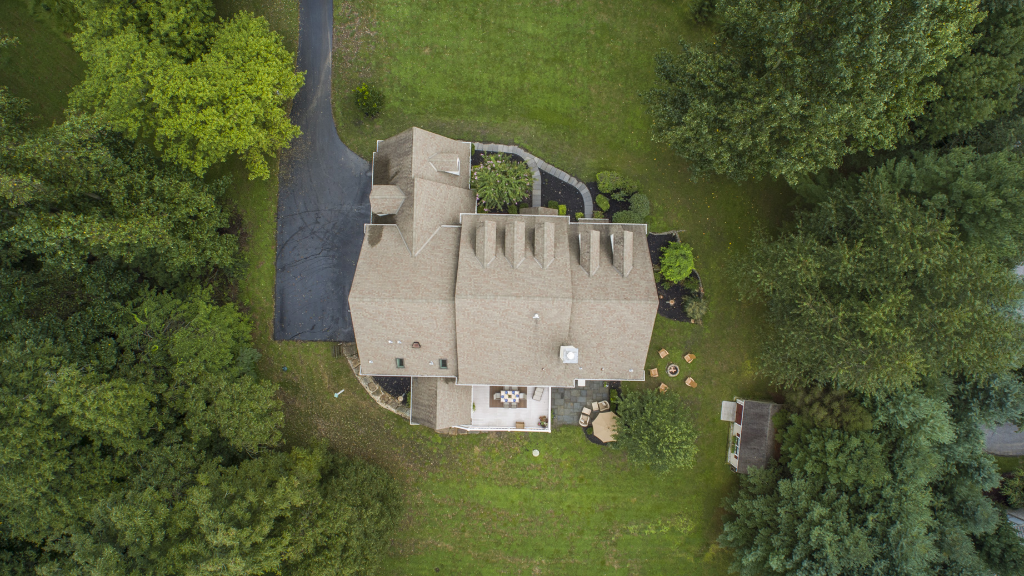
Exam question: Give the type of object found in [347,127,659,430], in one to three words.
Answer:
house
